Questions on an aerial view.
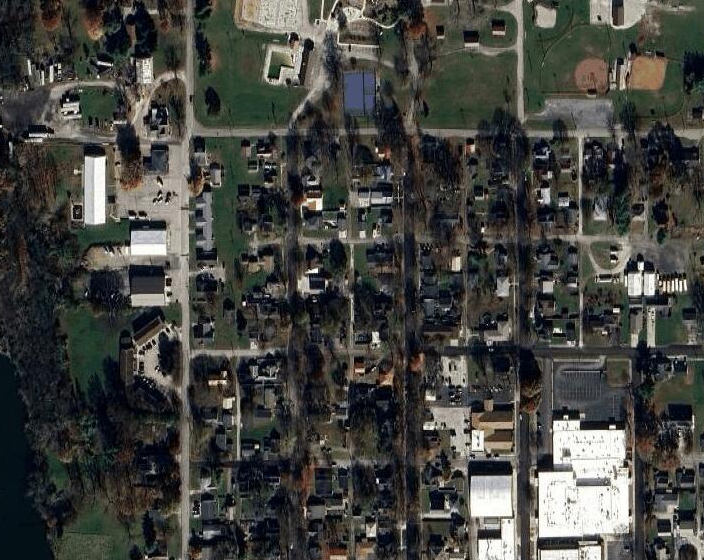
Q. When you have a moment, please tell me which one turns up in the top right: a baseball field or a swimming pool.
baseball field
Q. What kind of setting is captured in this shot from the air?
residential area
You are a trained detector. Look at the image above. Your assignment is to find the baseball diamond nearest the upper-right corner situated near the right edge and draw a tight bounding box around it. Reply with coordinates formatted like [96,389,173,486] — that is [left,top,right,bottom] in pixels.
[628,53,690,90]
